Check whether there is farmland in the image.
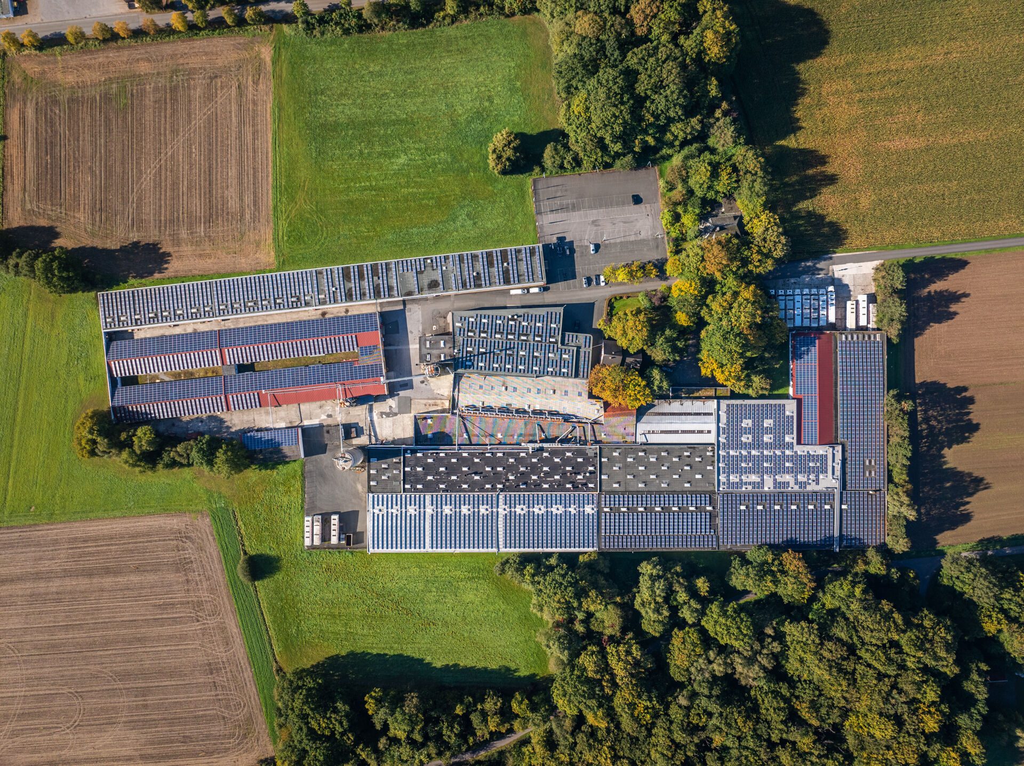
Yes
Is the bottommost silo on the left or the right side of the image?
left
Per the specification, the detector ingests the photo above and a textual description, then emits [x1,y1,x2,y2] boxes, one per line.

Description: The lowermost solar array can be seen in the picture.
[243,429,298,449]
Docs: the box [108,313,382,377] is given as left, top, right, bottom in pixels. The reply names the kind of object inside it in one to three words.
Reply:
shed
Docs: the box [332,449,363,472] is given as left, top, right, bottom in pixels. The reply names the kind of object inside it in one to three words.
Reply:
silo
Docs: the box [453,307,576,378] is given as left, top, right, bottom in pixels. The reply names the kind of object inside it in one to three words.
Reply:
building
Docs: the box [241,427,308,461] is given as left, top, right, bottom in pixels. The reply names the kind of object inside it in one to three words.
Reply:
shed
